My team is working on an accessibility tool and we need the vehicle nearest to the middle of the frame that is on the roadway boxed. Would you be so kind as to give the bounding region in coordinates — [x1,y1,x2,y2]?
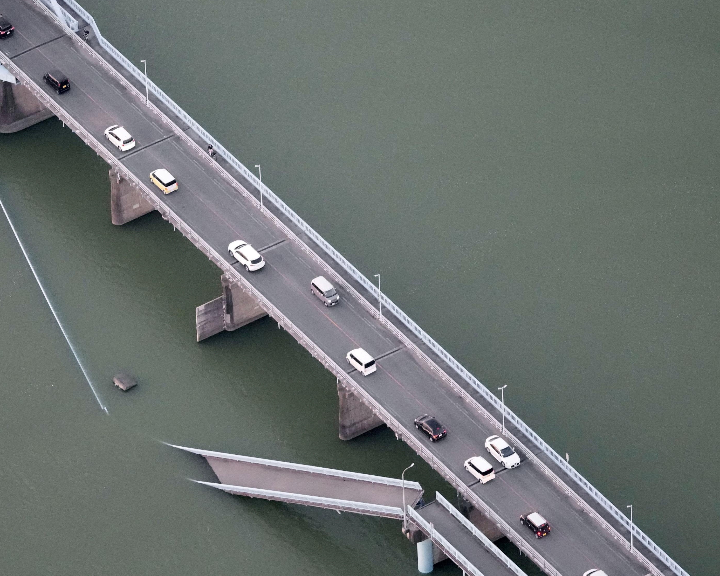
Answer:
[310,274,340,308]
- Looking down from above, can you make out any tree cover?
No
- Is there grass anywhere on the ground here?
No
